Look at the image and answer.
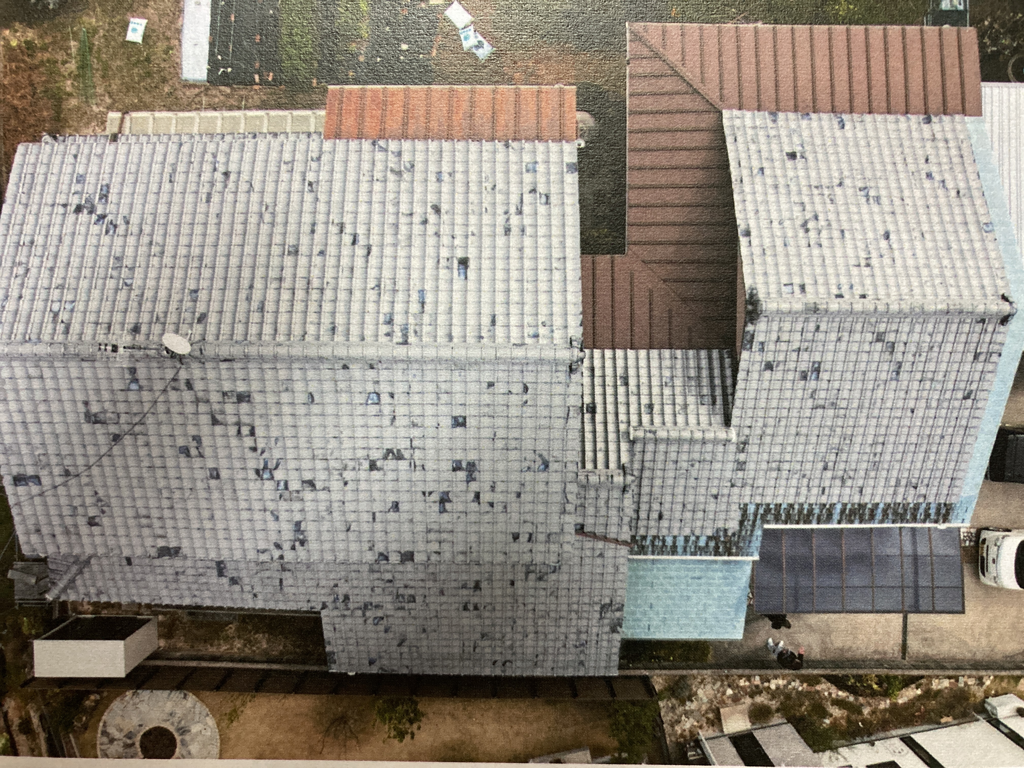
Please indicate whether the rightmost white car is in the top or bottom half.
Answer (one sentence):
The rightmost white car sits in the bottom half of the picture.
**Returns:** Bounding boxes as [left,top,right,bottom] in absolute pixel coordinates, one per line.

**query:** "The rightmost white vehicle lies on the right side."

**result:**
[971,527,1024,588]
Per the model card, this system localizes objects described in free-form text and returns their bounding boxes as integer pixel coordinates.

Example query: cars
[971,527,1024,588]
[987,430,1024,482]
